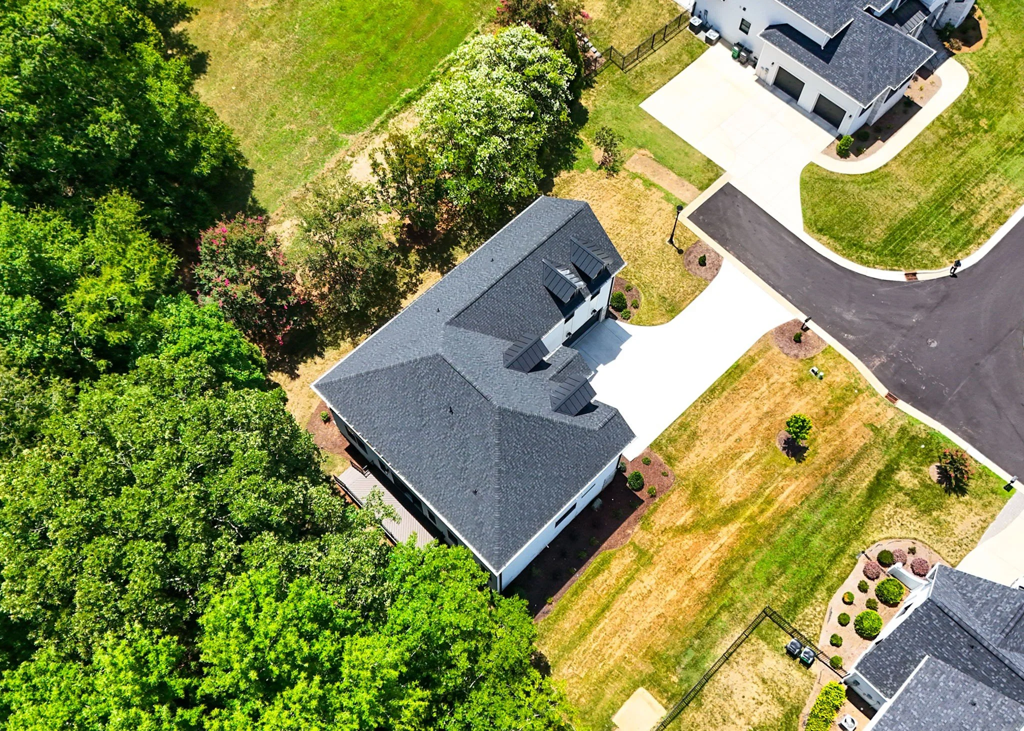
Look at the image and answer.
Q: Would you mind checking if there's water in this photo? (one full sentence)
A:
No, the scene doesn't show any water.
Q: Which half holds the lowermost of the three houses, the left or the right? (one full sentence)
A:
The lowermost of the three houses sits on the right side.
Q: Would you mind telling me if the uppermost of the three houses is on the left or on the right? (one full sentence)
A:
You can find the uppermost of the three houses on the right side of the picture.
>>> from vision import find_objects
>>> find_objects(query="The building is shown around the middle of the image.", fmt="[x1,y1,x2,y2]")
[308,193,639,593]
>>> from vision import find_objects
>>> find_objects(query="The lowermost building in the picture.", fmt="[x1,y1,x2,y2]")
[842,563,1024,731]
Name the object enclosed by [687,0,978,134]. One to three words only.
house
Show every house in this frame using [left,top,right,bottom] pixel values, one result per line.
[687,0,978,134]
[842,563,1024,731]
[308,193,639,593]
